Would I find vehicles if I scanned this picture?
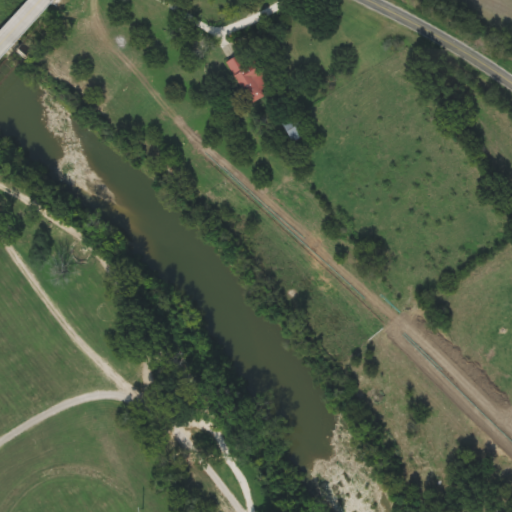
No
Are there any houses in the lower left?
No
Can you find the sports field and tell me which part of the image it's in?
bottom left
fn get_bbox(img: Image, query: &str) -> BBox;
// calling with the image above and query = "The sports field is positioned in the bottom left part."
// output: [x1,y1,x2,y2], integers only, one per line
[0,464,141,512]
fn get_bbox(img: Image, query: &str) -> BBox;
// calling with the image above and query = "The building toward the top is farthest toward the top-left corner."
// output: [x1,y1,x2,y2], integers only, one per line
[226,57,266,102]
